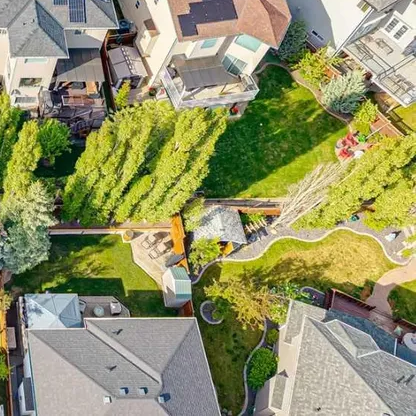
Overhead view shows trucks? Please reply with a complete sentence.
No, the picture doesn't show any truck.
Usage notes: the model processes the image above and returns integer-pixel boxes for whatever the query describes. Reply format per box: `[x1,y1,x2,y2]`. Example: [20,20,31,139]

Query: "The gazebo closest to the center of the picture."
[187,200,250,251]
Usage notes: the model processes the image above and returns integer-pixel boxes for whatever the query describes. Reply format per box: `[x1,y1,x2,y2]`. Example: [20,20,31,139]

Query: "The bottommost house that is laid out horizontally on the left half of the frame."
[22,317,230,416]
